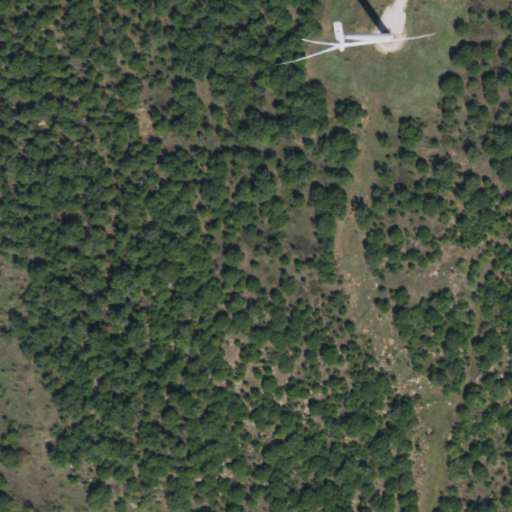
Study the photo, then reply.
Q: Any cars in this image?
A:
No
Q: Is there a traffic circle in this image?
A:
No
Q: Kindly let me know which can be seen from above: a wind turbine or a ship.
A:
wind turbine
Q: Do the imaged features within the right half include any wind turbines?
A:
Yes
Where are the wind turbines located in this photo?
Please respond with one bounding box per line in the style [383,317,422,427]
[280,20,436,64]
